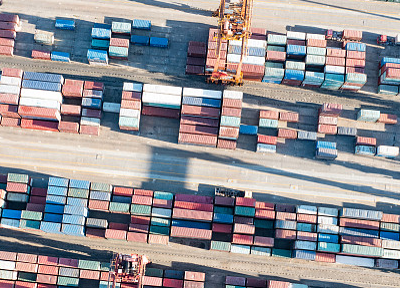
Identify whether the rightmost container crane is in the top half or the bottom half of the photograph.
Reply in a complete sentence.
It is in the top half that the rightmost container crane appears.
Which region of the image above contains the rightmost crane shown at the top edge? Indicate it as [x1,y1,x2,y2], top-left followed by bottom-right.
[205,0,255,87]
